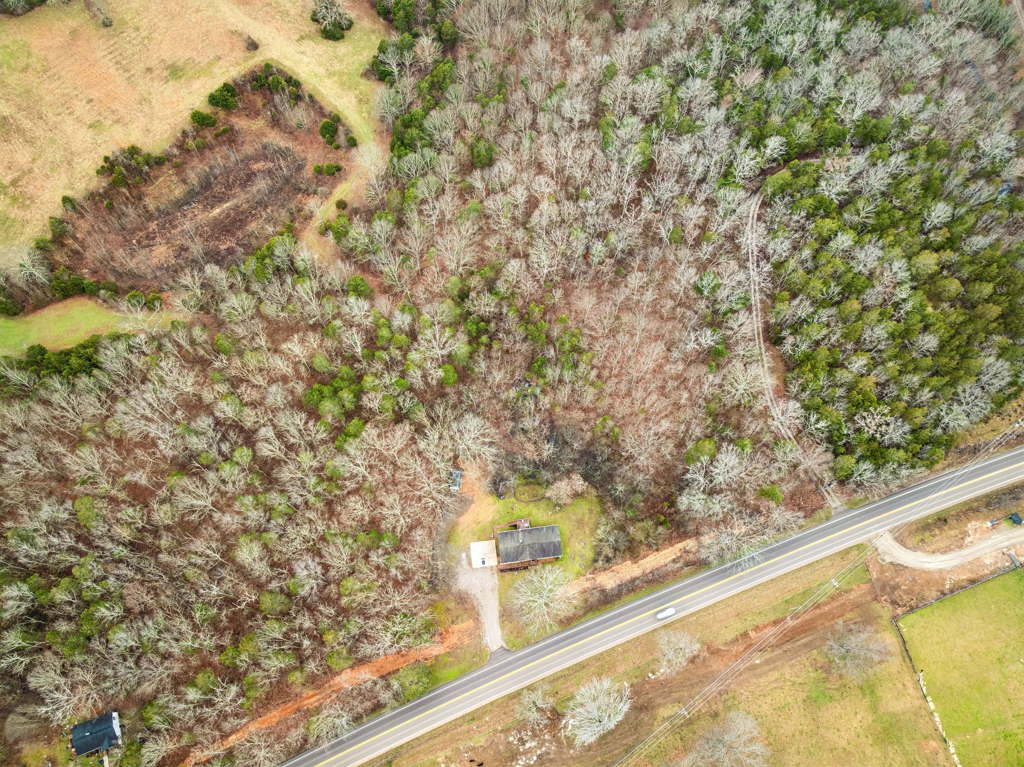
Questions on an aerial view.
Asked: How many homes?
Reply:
2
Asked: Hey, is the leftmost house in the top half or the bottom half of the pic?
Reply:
bottom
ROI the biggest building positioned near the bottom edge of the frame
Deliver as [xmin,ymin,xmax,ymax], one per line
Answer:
[70,713,126,760]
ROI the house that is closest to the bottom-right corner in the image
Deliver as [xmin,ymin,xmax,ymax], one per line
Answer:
[497,518,563,566]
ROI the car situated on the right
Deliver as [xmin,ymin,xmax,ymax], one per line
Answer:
[655,606,676,620]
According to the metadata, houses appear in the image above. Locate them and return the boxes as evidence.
[70,713,126,760]
[497,518,563,566]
